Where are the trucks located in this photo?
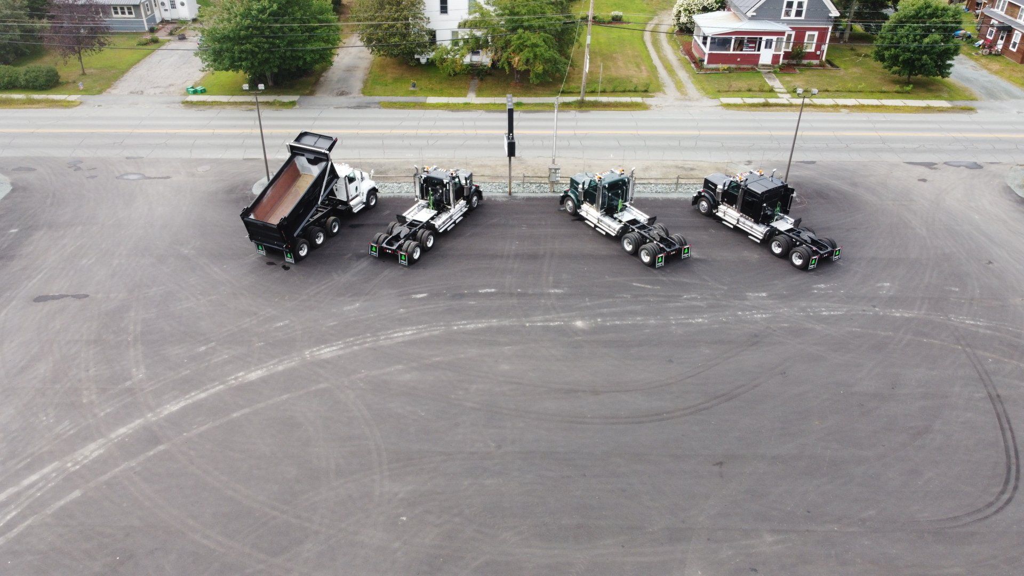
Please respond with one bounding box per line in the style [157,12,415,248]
[236,128,380,262]
[694,156,848,271]
[561,160,696,267]
[364,161,481,265]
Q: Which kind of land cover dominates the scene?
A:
paved ground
